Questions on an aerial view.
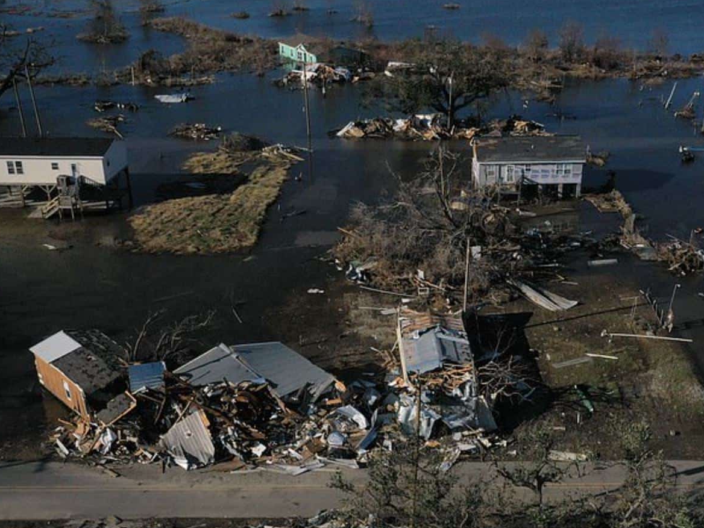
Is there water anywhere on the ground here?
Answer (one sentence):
Yes, water shows up in the scene.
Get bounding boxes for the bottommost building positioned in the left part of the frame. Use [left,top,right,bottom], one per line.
[30,328,128,420]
